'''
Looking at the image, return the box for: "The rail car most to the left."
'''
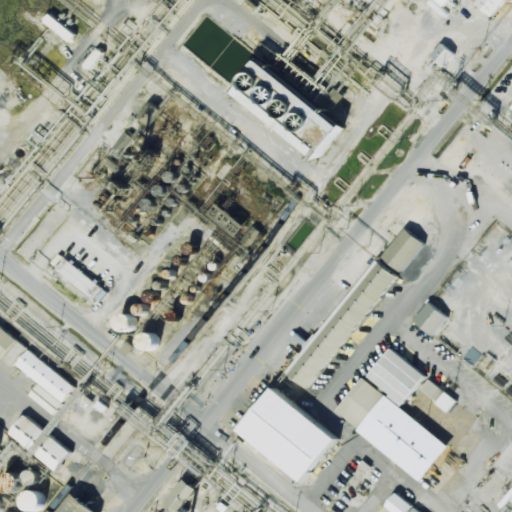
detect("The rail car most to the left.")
[104,420,124,443]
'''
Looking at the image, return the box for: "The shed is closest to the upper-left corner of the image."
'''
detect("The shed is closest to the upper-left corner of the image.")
[42,13,80,44]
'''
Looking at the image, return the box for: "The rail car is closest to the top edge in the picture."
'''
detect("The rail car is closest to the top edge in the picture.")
[280,195,301,218]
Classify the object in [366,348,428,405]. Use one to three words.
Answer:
building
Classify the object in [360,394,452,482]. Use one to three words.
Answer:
building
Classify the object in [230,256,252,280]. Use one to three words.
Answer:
rail car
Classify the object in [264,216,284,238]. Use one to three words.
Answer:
rail car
